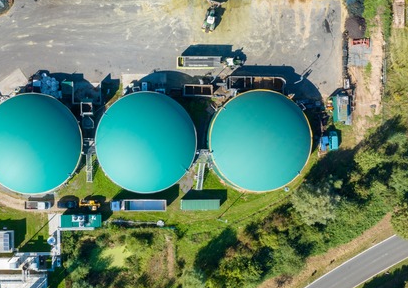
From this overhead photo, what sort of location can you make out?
industrial area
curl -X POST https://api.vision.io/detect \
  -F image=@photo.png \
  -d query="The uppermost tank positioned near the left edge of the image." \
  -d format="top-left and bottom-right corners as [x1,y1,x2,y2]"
[0,91,84,196]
